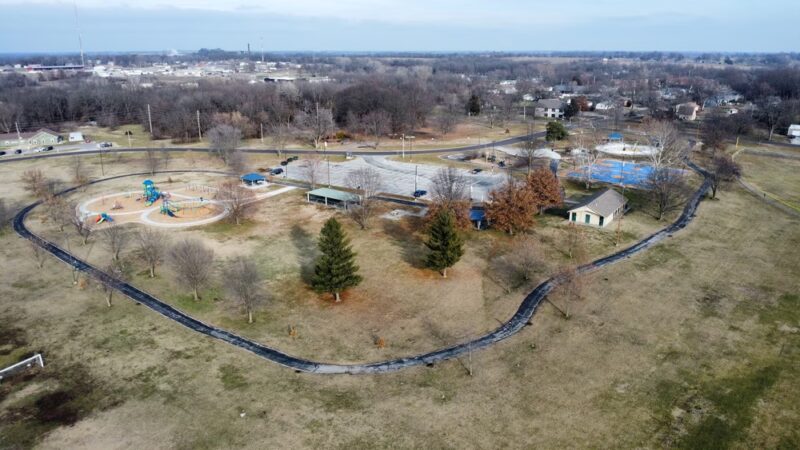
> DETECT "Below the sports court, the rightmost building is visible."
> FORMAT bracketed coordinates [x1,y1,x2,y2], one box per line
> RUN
[562,188,639,230]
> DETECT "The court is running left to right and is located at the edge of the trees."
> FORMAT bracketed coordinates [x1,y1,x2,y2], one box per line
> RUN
[566,160,691,190]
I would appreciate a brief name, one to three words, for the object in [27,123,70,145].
building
